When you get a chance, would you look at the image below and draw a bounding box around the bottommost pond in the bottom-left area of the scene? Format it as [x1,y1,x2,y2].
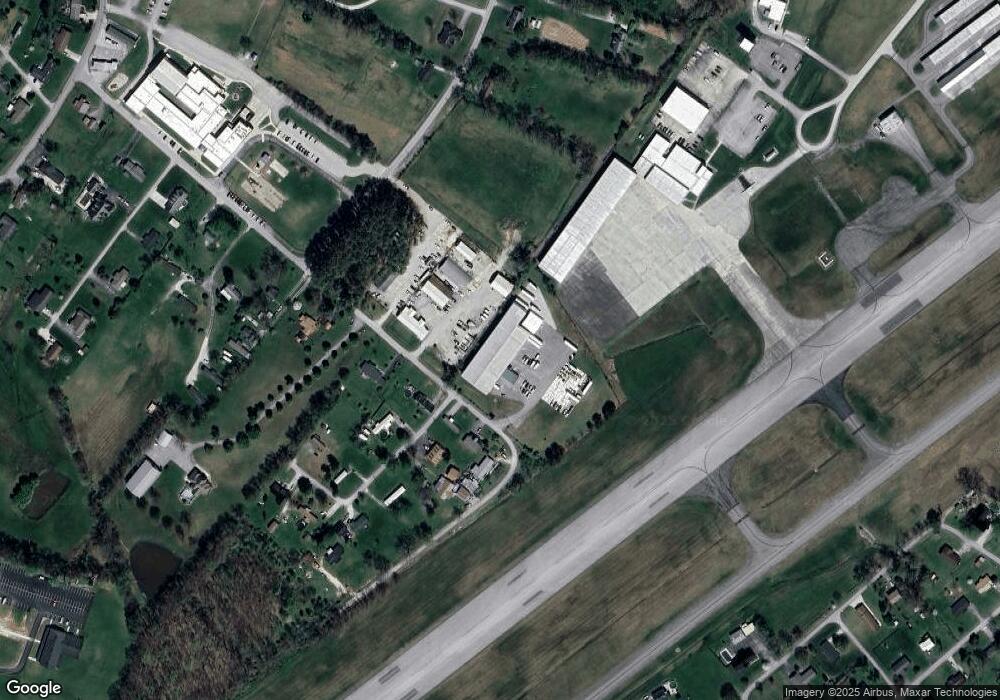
[131,541,182,595]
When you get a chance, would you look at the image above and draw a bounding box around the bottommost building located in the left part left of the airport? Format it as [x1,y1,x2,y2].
[36,624,79,670]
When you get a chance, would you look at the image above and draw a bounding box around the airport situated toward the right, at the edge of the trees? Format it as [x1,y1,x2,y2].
[340,0,1000,700]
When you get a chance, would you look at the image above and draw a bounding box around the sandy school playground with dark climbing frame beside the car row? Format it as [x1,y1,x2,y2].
[241,159,289,212]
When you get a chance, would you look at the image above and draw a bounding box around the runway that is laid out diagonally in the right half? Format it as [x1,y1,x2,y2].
[340,190,1000,700]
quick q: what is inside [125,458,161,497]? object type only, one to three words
barn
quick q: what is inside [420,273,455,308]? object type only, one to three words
building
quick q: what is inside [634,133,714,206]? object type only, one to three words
hangar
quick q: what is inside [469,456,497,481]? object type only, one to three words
house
